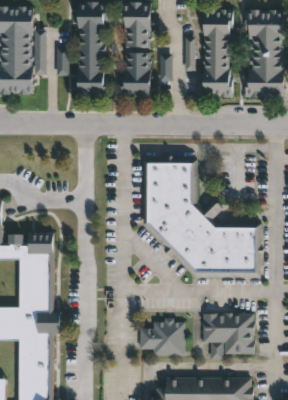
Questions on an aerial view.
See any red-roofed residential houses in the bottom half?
No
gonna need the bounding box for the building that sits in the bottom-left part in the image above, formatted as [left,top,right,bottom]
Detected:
[0,200,59,400]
